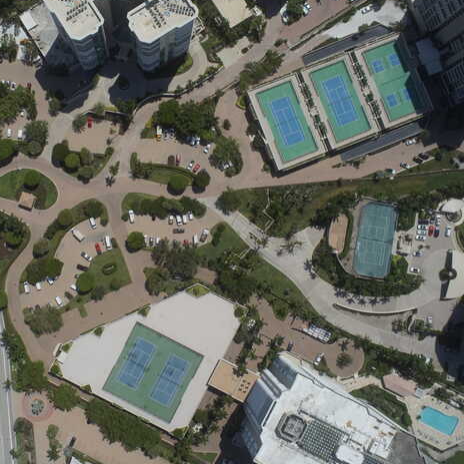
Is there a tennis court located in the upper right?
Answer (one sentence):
Yes, a tennis court shows up in the upper right.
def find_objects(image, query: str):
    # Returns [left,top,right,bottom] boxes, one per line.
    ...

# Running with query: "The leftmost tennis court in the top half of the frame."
[256,81,317,162]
